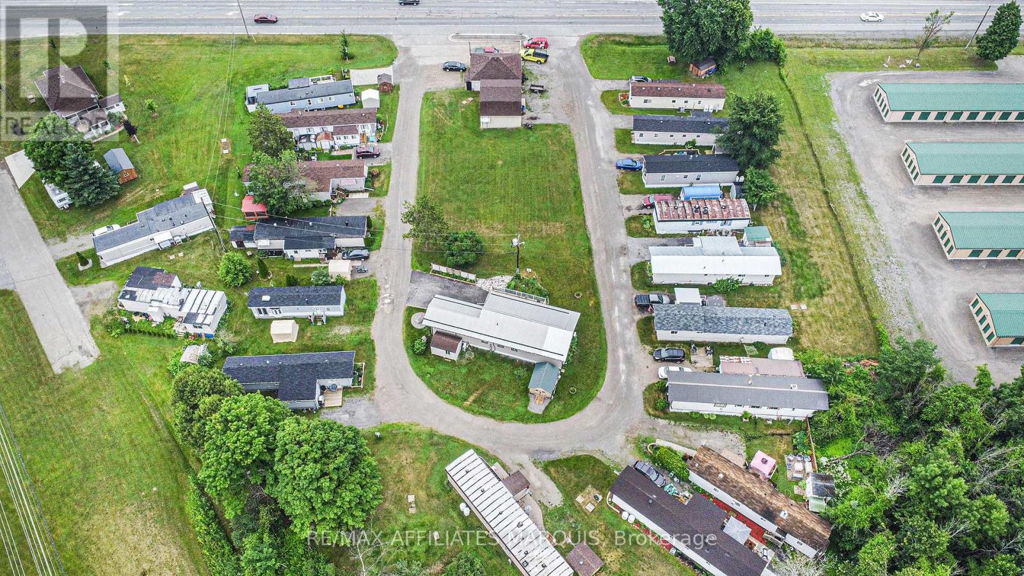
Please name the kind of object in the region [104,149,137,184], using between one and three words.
shed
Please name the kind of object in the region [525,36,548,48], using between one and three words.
vehicle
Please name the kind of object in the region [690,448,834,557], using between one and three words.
house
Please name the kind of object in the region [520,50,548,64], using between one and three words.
vehicle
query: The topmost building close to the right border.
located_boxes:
[873,81,1024,122]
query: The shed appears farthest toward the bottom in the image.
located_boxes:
[568,533,616,576]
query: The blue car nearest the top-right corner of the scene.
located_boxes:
[616,159,643,172]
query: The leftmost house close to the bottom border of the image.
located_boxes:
[445,449,573,576]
